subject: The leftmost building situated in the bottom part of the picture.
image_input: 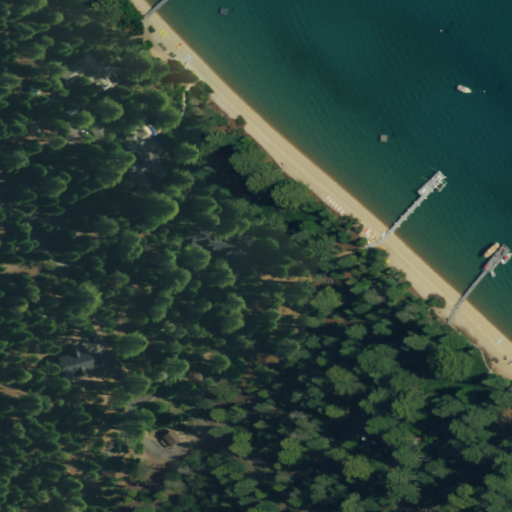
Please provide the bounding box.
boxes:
[60,350,94,376]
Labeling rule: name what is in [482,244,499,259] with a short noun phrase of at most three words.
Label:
boat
